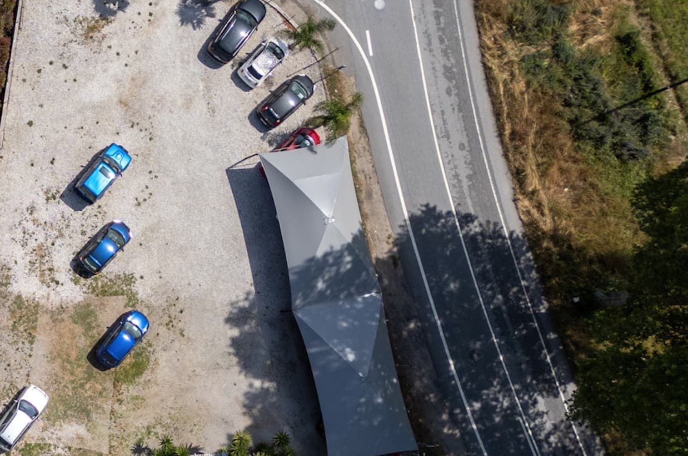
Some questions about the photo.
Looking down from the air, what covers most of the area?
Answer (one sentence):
What you mostly see from above here is paved ground.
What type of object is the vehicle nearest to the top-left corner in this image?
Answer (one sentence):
What you see as the vehicle nearest to the top-left corner is an automobile.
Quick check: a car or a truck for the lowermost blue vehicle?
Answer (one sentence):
The lowermost blue vehicle appears to be a car.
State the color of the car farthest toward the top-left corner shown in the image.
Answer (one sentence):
The car farthest toward the top-left corner is blue.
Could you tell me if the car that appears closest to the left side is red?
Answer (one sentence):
No, the color of the car that appears closest to the left side is white.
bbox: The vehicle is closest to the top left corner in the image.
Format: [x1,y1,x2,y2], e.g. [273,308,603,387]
[74,140,136,207]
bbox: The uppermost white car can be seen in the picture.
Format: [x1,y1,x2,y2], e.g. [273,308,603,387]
[238,35,288,87]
